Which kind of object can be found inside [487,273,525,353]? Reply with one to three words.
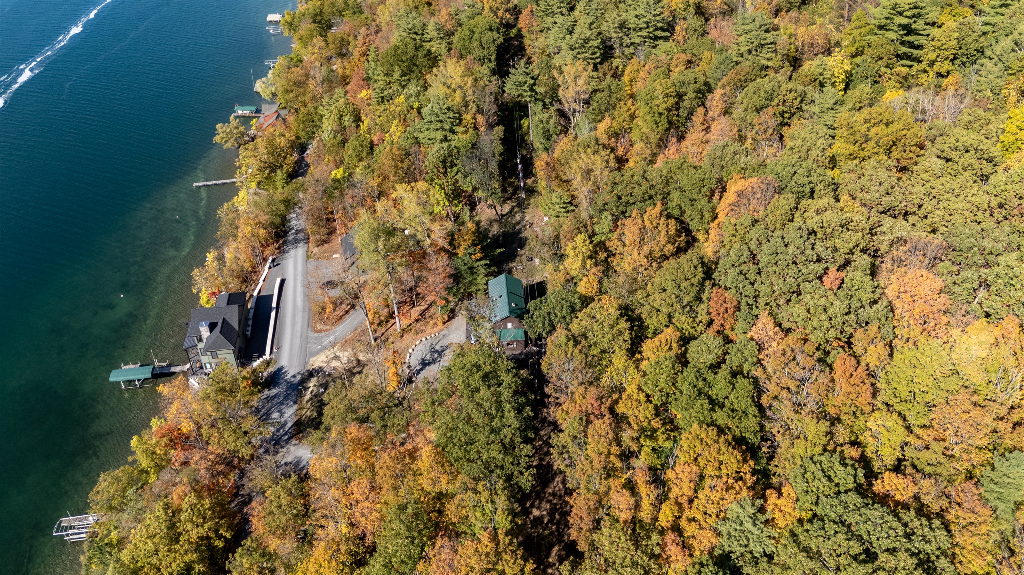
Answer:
house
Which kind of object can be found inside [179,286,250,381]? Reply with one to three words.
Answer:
house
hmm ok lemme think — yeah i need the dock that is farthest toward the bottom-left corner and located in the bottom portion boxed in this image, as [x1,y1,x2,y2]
[51,511,103,539]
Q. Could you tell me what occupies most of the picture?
trees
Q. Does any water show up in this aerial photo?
Yes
